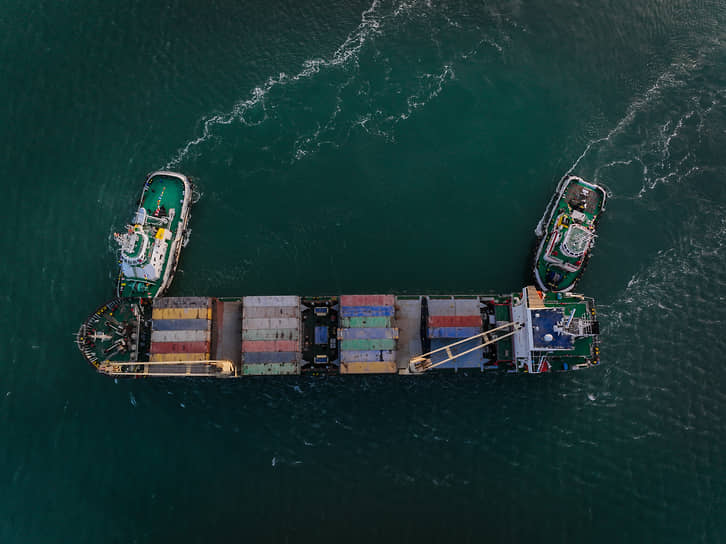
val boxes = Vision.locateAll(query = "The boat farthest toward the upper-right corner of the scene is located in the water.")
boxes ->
[532,174,606,294]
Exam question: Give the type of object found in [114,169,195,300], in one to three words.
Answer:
boat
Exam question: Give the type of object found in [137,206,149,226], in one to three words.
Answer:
boat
